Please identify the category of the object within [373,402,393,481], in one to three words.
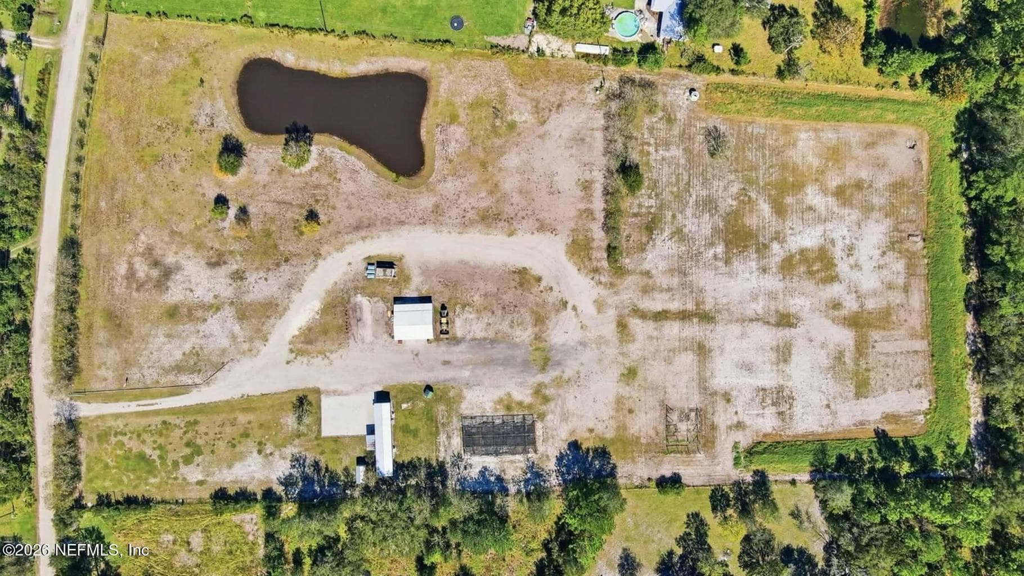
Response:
house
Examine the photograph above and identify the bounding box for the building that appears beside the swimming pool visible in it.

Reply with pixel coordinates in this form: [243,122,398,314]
[651,0,688,41]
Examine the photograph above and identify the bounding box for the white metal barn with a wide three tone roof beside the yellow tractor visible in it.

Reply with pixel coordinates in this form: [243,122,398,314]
[392,304,434,340]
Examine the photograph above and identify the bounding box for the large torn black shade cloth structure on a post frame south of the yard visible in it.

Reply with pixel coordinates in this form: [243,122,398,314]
[462,415,539,455]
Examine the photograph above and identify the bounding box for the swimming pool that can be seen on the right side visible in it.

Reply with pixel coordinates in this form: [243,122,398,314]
[611,10,641,38]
